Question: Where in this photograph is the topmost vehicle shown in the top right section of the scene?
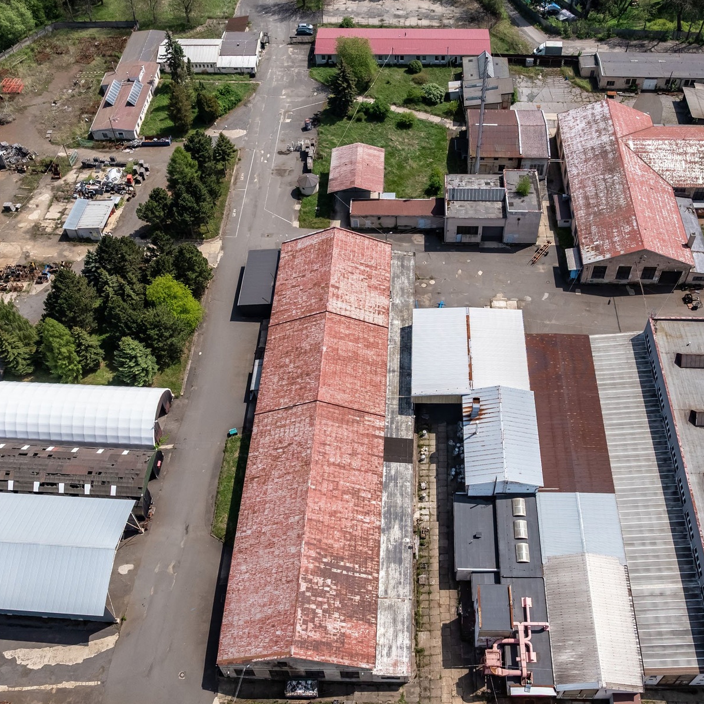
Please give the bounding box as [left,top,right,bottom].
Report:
[533,42,565,57]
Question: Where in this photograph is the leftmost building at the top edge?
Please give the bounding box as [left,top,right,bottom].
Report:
[92,32,171,146]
